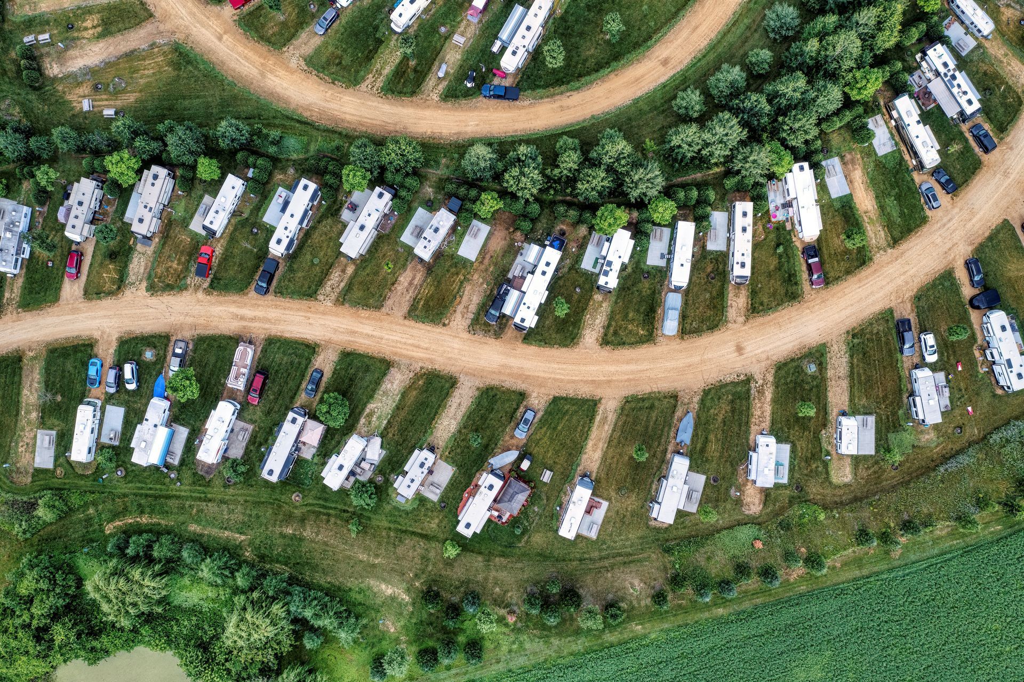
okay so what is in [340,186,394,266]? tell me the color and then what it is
white vehicle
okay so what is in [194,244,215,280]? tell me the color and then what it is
red truck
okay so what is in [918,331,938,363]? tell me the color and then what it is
white car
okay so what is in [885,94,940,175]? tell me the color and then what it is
white camper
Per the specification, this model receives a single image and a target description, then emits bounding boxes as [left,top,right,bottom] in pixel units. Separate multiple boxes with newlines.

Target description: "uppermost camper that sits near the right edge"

[943,0,994,46]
